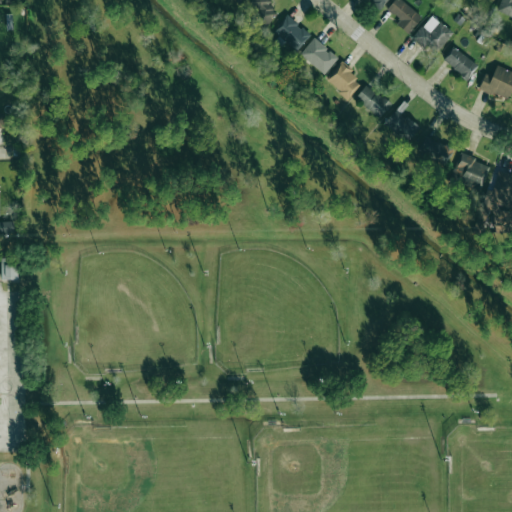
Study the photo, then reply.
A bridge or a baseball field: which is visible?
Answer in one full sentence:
I can see a baseball field in this picture.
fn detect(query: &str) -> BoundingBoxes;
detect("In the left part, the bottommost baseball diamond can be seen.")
[64,426,249,512]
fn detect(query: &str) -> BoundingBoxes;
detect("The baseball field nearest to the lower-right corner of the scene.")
[448,425,512,512]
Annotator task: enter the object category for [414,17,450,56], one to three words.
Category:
house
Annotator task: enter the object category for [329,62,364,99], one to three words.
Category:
house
